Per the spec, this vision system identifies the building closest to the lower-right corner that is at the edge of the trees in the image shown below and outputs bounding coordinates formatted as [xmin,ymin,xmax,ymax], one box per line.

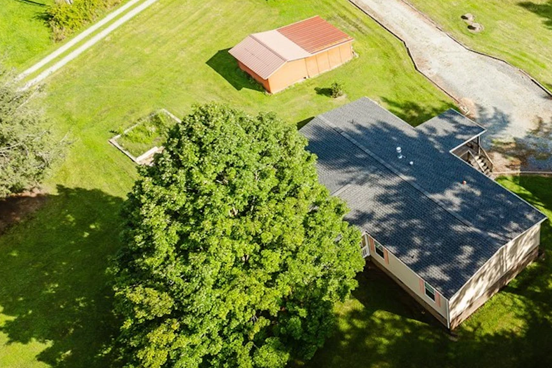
[288,97,548,333]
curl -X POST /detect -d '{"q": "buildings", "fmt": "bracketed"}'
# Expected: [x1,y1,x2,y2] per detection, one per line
[230,16,354,95]
[288,97,548,333]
